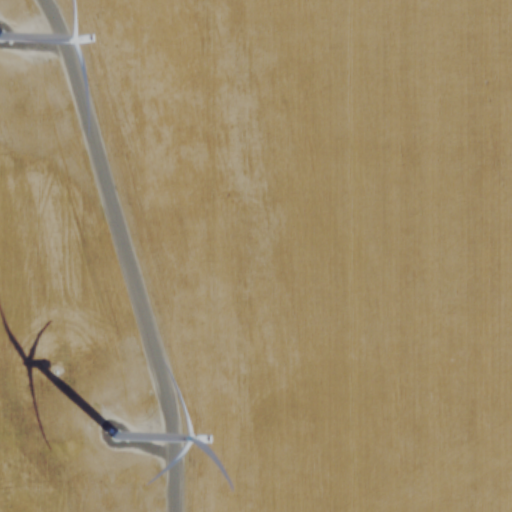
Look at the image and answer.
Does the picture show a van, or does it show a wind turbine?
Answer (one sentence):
This aerial view contains a wind turbine.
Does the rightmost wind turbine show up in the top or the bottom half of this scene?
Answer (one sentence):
The rightmost wind turbine sits in the bottom half of the picture.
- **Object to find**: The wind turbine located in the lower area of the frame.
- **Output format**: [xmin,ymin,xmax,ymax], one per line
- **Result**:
[108,358,233,489]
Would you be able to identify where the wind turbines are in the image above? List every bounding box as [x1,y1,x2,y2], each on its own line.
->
[108,358,233,489]
[0,0,96,118]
